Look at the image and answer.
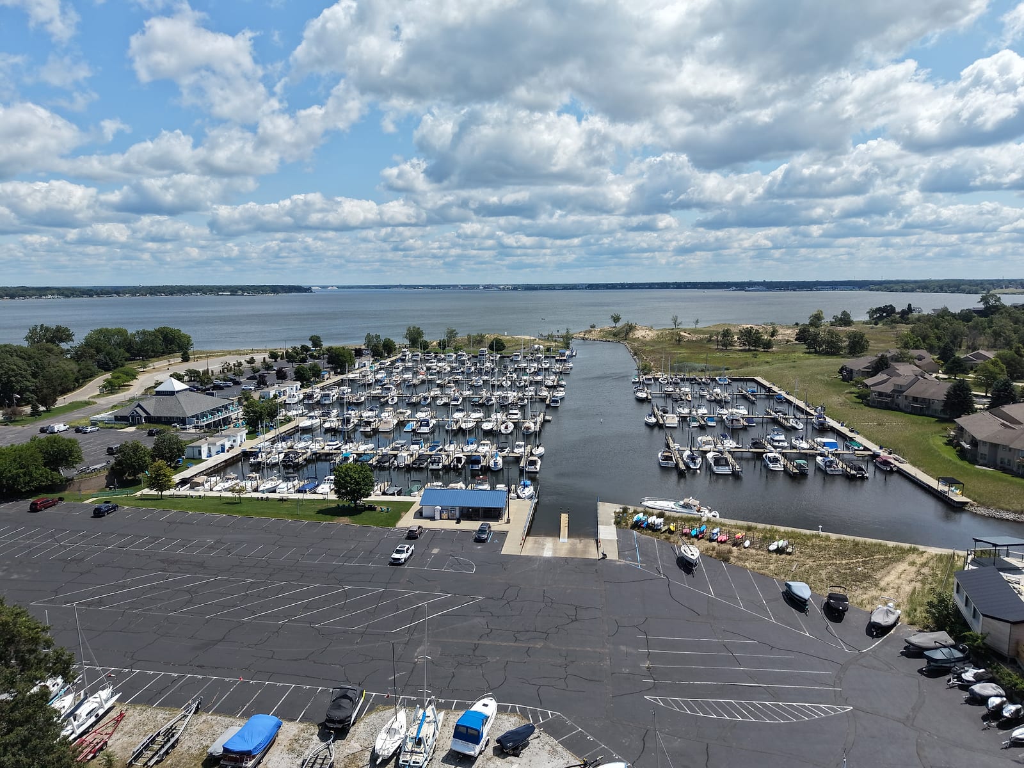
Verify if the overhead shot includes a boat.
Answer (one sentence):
Yes, I can see a boat in this picture.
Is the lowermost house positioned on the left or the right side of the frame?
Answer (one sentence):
The lowermost house is on the right side of the image.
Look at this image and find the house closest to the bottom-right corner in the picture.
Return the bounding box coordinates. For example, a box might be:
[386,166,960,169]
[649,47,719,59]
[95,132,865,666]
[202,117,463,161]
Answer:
[955,561,1024,658]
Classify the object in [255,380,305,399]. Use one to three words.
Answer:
building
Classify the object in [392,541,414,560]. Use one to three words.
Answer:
vehicle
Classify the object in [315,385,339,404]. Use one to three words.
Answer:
boat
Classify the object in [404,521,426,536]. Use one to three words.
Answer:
car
